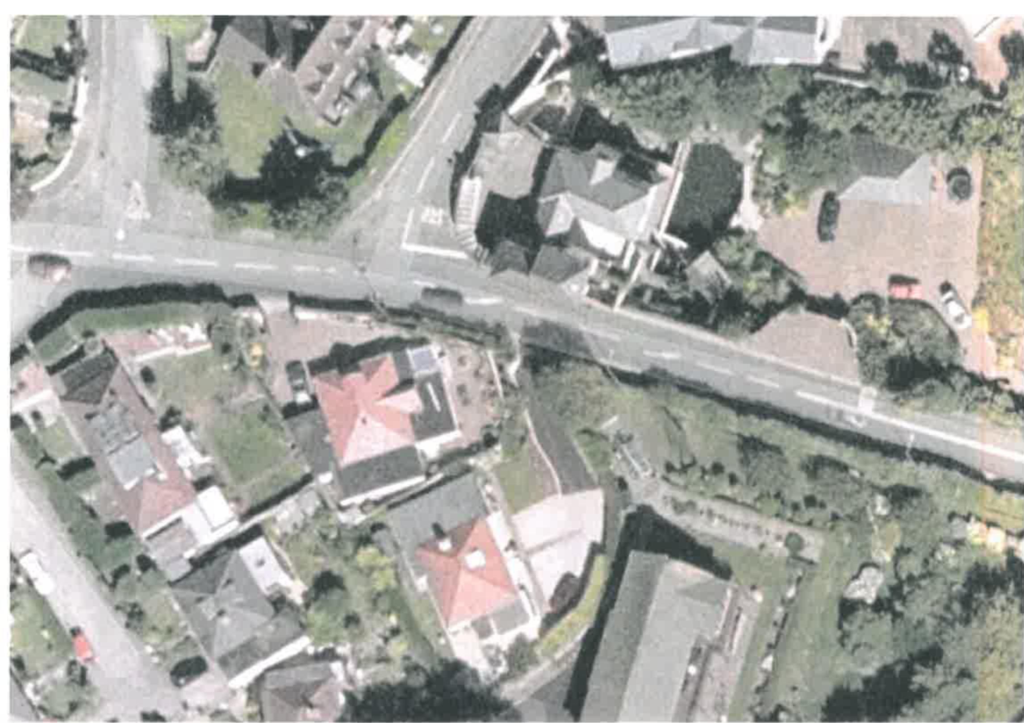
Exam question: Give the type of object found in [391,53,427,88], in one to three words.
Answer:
shed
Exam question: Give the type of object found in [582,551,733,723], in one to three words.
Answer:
barn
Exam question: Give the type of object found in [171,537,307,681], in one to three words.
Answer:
house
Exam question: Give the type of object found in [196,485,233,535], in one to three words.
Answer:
building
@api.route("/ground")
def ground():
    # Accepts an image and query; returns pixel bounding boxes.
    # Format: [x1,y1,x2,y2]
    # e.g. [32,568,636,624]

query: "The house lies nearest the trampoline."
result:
[837,147,932,204]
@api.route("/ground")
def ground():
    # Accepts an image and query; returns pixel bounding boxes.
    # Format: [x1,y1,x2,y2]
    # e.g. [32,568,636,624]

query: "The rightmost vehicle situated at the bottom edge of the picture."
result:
[168,658,212,687]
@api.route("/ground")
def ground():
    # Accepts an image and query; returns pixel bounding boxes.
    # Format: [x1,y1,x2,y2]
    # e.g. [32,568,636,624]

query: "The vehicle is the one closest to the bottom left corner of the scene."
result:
[70,627,97,668]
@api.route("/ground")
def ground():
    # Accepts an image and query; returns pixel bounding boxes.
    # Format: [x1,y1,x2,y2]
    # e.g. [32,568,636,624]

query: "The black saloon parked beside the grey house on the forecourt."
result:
[815,196,842,242]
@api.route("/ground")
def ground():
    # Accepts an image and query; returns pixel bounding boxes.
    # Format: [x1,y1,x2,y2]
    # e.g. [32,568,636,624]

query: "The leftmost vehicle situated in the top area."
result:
[30,258,71,282]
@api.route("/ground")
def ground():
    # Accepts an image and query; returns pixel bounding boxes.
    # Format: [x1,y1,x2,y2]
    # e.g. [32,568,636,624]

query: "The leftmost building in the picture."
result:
[55,352,212,583]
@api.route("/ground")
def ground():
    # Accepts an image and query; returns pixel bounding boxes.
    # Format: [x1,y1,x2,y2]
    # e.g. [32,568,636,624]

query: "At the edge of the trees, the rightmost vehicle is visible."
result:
[941,287,972,331]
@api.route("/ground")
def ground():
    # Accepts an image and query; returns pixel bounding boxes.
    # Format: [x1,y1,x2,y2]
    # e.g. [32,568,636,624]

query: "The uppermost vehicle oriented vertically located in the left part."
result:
[287,362,310,403]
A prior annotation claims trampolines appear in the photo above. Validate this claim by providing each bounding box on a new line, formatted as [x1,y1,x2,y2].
[946,171,971,196]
